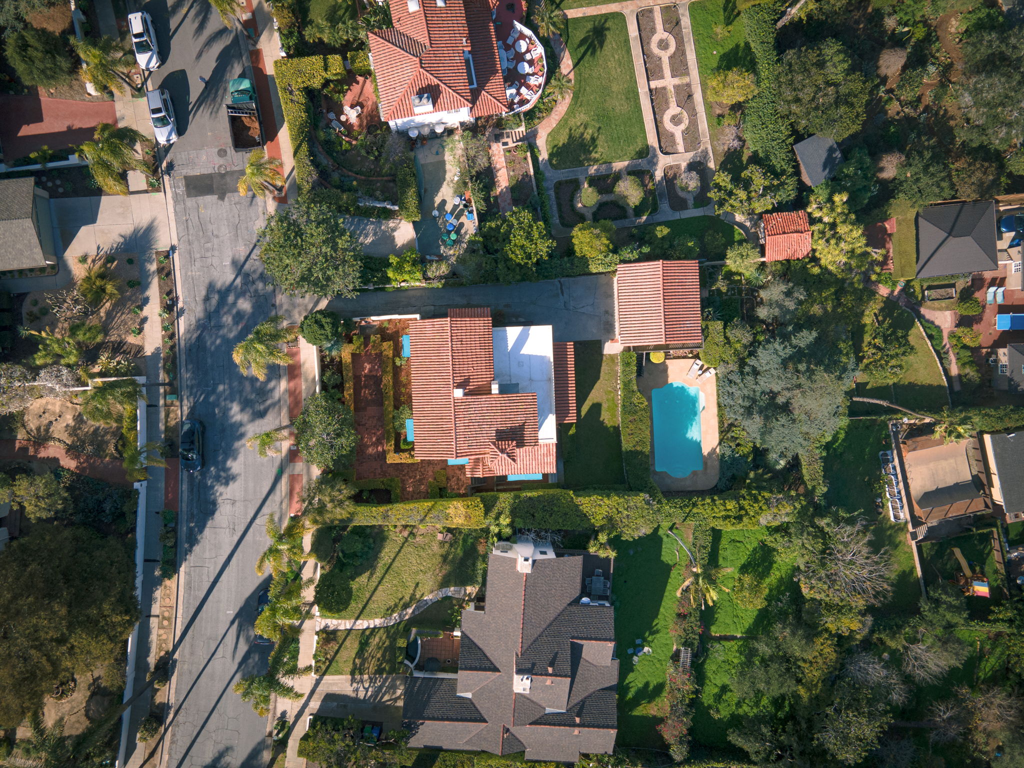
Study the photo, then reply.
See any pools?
Yes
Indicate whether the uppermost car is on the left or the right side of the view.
left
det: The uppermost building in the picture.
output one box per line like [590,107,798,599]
[366,0,510,138]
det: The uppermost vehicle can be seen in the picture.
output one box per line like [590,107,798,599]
[125,10,168,75]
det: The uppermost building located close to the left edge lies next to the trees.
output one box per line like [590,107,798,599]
[0,173,56,270]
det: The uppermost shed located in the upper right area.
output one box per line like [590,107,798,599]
[789,134,844,190]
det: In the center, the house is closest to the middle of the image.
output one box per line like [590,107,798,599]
[402,306,578,481]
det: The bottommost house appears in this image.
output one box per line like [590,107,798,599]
[402,539,619,763]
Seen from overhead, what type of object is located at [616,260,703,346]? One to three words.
building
